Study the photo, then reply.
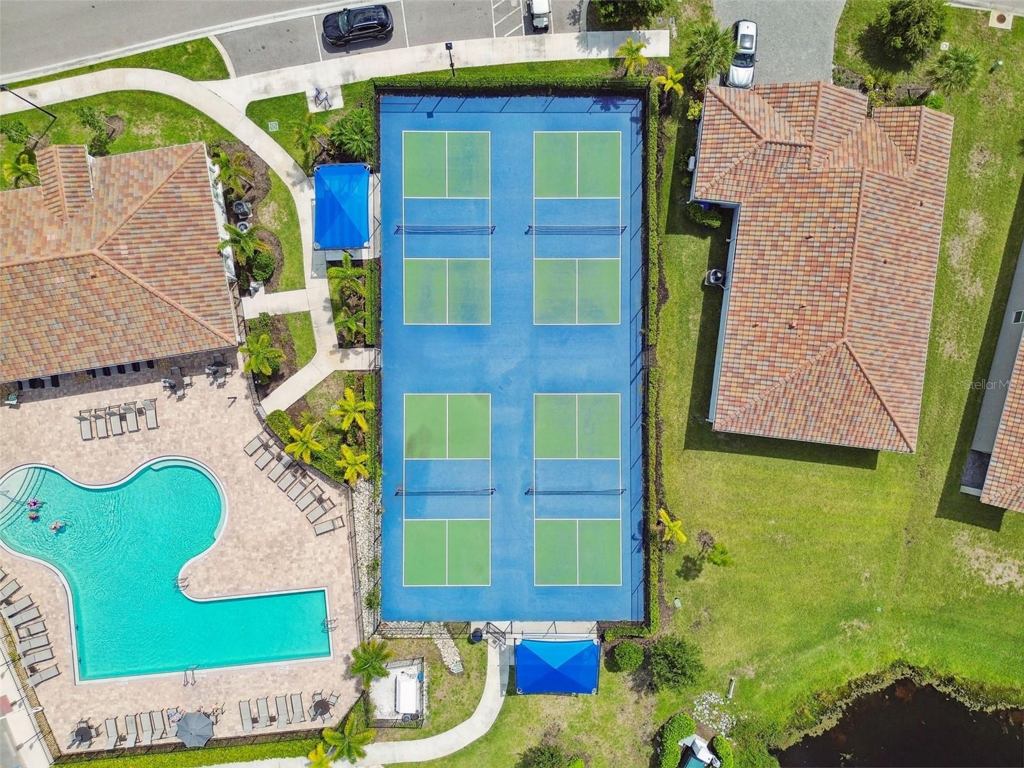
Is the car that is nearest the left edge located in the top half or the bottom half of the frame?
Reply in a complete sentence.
The top half of the photo is where the car that is nearest the left edge is.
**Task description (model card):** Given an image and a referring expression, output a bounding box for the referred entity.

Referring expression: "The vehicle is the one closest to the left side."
[323,5,393,48]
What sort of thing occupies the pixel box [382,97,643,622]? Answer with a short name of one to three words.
sports court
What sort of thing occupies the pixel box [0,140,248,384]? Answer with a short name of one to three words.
building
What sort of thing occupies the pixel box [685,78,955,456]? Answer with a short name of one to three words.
house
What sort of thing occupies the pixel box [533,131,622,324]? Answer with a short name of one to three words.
sports court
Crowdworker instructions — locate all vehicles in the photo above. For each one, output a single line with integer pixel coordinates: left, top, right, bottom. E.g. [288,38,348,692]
[724,20,762,89]
[323,5,393,48]
[529,0,554,28]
